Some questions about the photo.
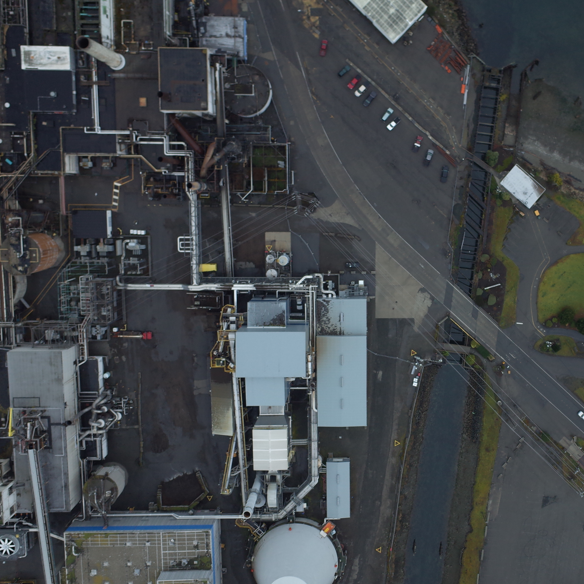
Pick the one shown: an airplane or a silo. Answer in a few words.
silo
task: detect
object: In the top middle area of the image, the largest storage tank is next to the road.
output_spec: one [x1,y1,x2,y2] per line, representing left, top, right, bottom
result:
[226,59,274,115]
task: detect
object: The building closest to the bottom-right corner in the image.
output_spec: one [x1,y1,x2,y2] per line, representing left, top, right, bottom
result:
[326,455,351,519]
